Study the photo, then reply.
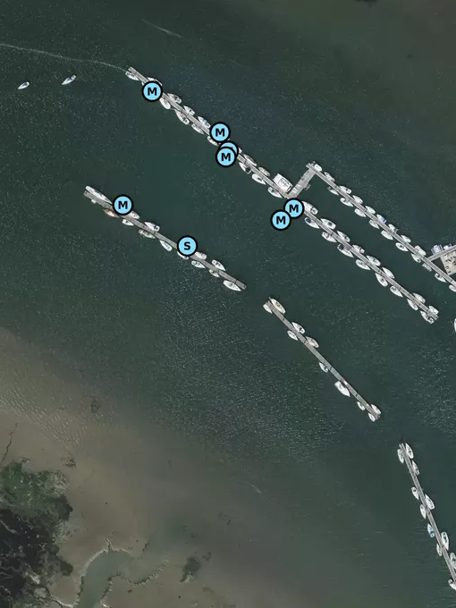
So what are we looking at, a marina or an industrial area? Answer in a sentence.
It's a marina.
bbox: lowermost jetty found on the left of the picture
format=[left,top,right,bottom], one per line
[84,191,246,289]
